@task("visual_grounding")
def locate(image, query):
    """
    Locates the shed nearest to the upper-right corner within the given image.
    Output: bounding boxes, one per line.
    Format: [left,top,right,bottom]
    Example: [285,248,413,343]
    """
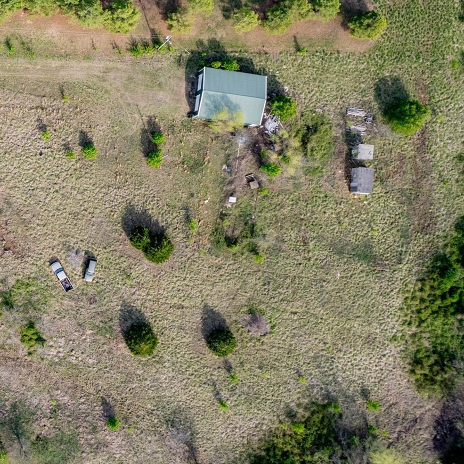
[345,144,373,160]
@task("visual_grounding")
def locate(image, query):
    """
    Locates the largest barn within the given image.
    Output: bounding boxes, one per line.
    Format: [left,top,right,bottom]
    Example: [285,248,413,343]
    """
[192,67,268,126]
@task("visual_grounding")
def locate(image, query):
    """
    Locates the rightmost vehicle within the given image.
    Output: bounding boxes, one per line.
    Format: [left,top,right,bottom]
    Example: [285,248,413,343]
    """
[84,257,97,282]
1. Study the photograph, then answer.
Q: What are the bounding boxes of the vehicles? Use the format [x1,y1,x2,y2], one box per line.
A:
[50,261,74,293]
[84,257,97,282]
